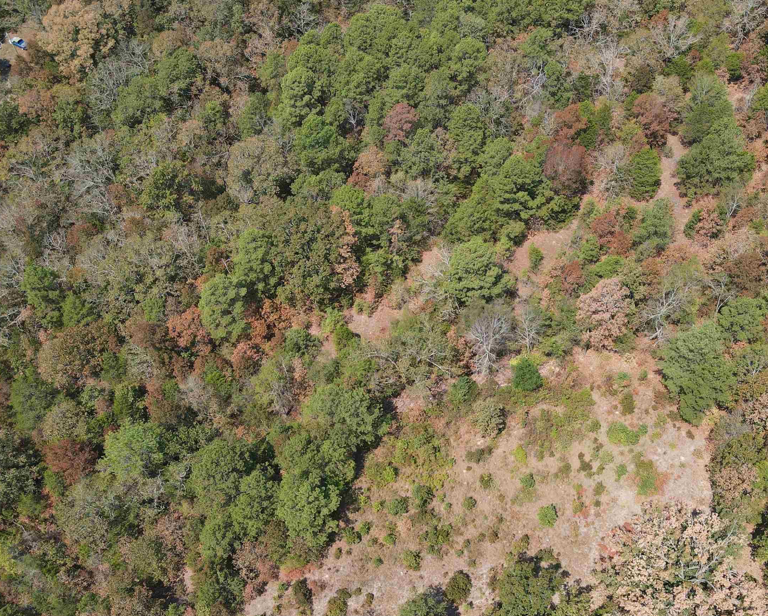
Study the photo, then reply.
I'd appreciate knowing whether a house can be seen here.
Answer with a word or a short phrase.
No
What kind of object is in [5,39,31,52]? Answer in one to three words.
vehicle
